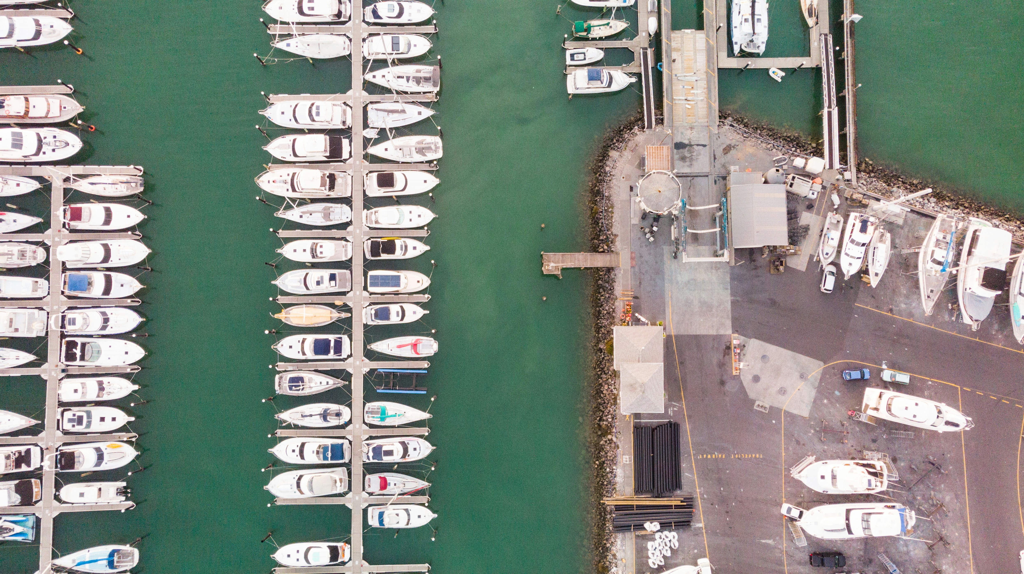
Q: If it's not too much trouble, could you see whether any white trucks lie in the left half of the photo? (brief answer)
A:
No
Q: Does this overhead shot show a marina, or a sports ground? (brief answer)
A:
marina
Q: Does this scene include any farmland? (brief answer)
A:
No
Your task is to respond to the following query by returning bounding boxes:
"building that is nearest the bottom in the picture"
[619,362,665,414]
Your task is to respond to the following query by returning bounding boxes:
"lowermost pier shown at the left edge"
[0,165,144,574]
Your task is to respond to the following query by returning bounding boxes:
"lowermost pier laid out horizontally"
[541,251,613,279]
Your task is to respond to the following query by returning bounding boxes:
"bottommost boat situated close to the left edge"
[47,546,143,574]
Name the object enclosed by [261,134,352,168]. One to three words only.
boat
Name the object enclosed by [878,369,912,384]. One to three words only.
car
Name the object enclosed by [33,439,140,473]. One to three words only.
boat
